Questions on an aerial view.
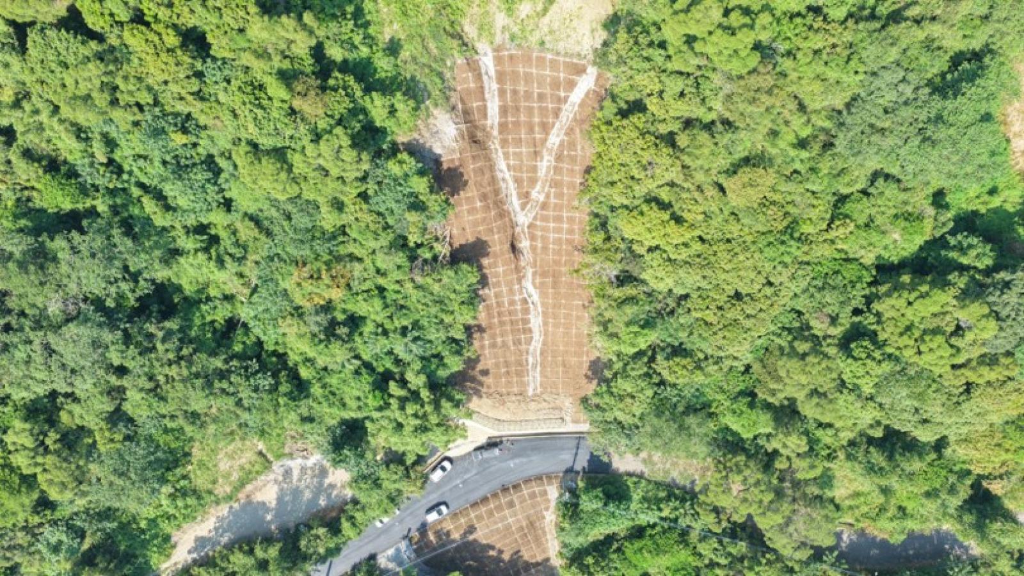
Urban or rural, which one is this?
rural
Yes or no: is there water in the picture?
No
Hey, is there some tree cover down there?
Yes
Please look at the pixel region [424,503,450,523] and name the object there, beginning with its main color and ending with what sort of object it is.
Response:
white car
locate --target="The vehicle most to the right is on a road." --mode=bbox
[473,443,500,460]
